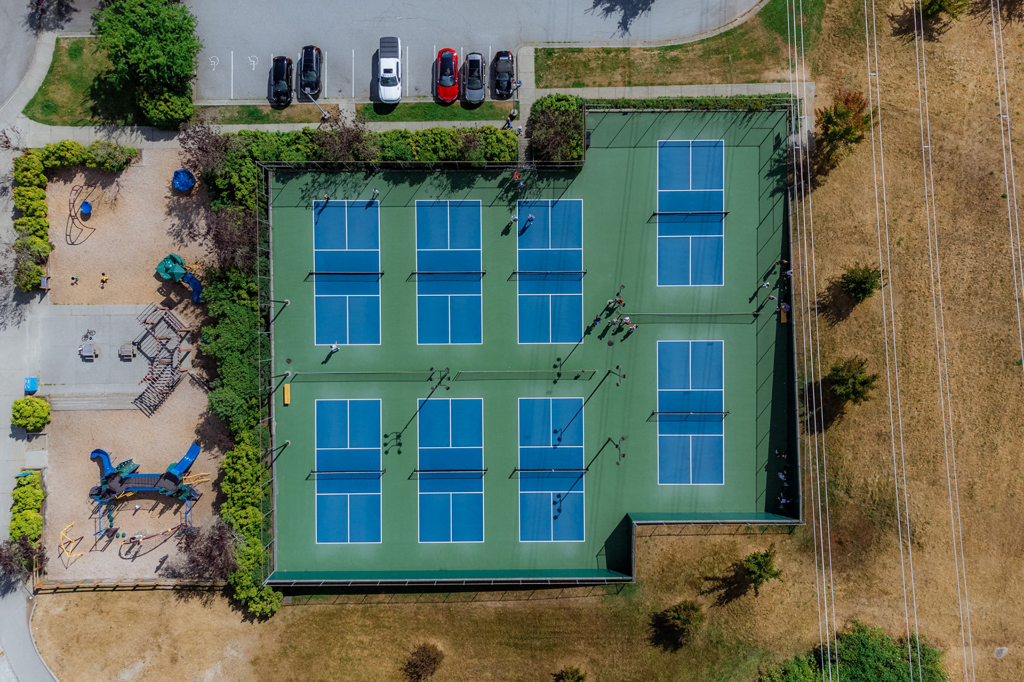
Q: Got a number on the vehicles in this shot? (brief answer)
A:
six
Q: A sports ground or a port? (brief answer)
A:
sports ground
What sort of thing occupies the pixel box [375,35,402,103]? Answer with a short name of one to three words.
truck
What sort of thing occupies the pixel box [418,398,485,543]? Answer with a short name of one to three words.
sports court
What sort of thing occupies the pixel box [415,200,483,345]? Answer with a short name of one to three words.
sports court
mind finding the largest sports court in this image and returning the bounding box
[271,110,788,572]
